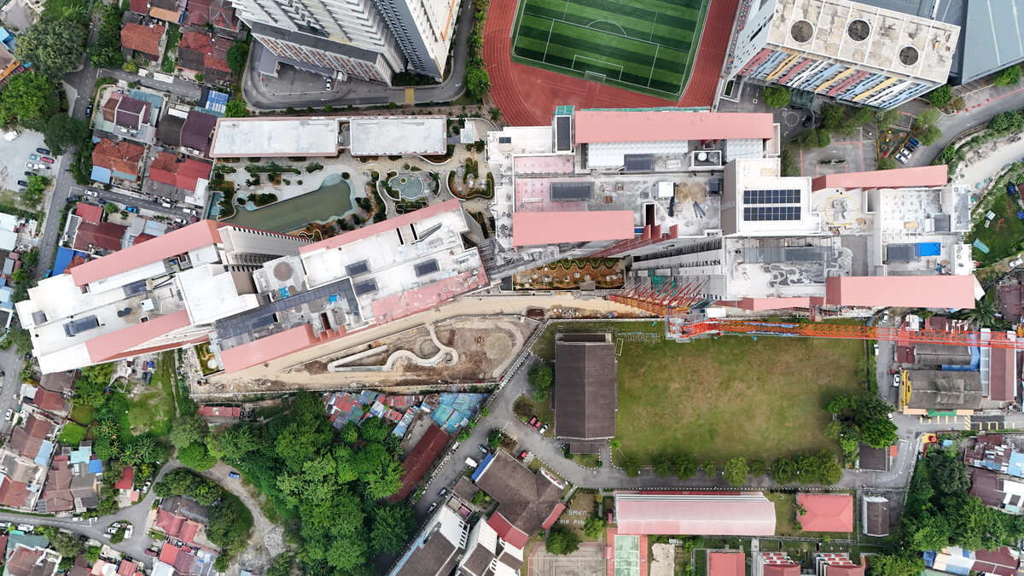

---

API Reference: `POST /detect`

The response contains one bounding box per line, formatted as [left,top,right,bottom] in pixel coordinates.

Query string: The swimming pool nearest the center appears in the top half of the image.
[388,173,424,201]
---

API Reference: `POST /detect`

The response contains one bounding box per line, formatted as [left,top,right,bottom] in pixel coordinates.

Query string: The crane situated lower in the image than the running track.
[601,261,1024,349]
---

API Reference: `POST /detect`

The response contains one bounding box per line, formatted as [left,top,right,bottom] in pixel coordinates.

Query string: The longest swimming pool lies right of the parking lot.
[224,173,354,236]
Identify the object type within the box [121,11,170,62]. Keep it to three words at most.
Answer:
house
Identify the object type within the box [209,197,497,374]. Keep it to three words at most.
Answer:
building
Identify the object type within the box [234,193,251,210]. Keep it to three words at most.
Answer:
swimming pool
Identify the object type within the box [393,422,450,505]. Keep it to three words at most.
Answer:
shed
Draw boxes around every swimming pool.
[234,193,251,210]
[206,191,224,220]
[224,173,354,236]
[388,173,424,201]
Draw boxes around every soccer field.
[510,0,706,104]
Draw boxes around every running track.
[479,0,736,130]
